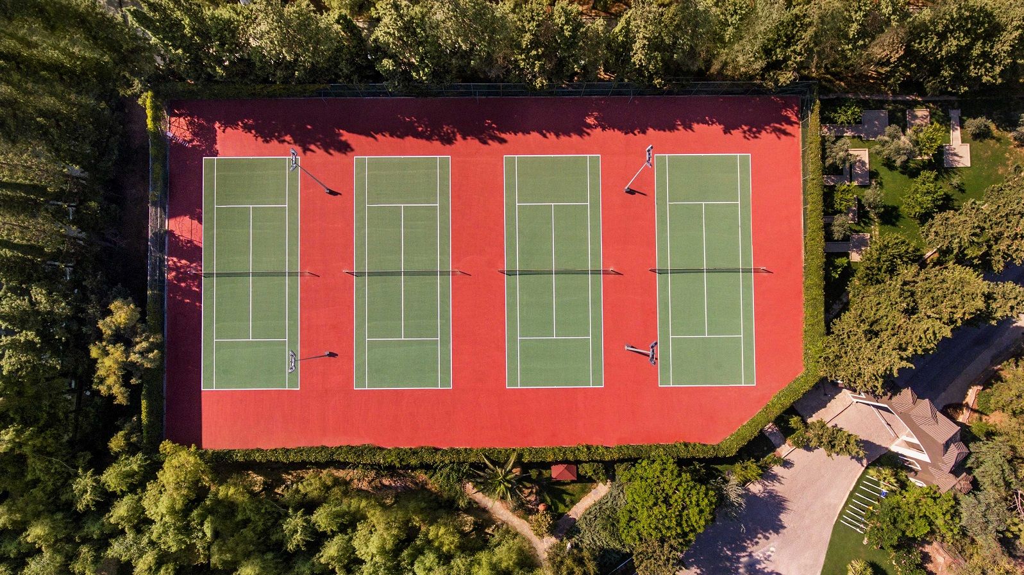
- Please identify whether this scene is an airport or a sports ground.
sports ground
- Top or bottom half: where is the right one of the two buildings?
bottom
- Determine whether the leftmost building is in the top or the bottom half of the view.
bottom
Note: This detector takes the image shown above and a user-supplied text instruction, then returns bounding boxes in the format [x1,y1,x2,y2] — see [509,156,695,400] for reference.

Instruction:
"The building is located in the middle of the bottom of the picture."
[552,462,577,483]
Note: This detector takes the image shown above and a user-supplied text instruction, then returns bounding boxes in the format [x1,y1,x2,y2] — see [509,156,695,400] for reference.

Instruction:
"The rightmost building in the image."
[844,374,977,498]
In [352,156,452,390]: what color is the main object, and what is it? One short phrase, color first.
green tennis court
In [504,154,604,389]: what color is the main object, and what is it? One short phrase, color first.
green tennis court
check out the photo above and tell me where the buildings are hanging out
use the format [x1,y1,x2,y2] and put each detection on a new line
[552,462,577,483]
[844,374,977,498]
